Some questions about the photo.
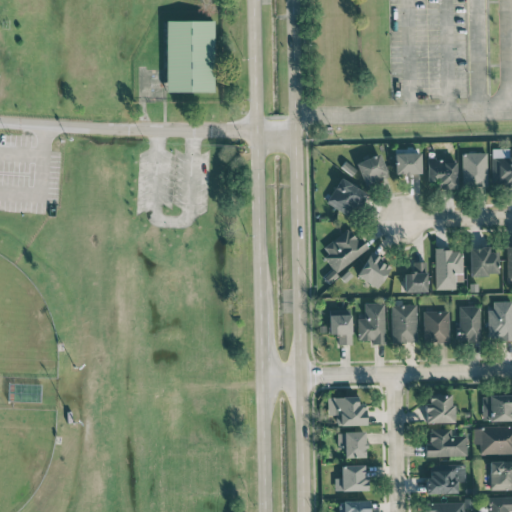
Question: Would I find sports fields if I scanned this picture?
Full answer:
Yes, this view includes a sports field.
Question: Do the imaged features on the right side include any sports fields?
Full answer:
No, no sports field appears on the right side.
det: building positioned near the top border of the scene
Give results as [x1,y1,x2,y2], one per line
[167,20,216,93]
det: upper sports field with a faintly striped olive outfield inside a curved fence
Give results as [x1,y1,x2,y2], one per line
[0,254,58,378]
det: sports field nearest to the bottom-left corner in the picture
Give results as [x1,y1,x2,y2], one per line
[0,410,56,512]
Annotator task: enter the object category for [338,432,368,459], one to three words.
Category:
house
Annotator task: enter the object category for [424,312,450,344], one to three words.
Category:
house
